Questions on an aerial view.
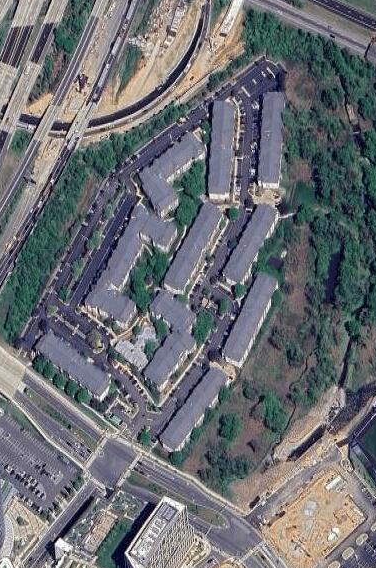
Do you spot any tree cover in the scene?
Yes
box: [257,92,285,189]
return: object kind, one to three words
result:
building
